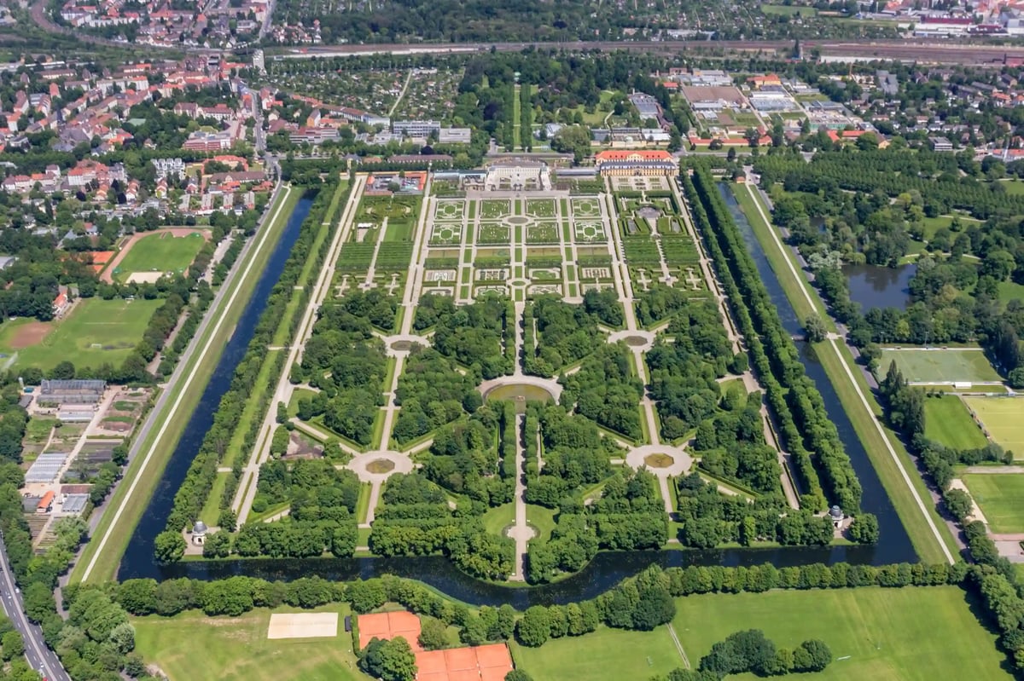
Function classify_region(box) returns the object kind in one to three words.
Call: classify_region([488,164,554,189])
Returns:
building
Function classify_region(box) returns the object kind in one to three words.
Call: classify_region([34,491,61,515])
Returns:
house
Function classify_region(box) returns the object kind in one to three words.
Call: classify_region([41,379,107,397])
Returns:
greenhouse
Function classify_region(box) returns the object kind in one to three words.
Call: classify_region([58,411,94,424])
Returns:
greenhouse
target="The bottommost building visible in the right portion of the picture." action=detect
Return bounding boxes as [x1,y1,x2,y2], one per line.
[828,506,846,531]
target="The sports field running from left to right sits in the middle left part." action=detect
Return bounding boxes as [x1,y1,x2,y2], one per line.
[0,299,160,372]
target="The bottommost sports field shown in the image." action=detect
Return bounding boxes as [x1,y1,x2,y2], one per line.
[964,396,1024,458]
